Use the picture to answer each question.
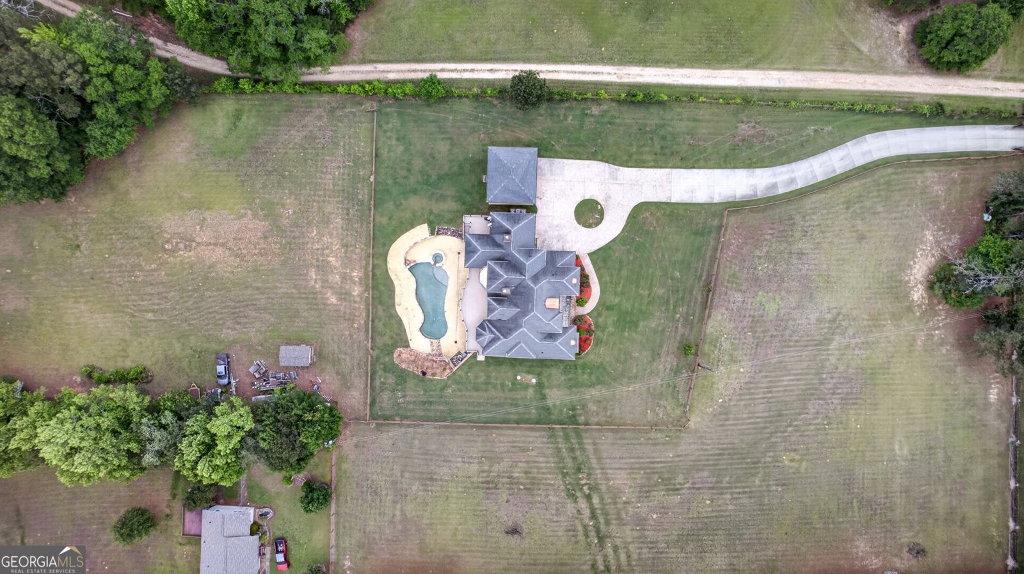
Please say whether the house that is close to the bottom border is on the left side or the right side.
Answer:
left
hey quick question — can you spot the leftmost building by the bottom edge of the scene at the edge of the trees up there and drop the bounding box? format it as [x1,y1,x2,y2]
[202,506,265,574]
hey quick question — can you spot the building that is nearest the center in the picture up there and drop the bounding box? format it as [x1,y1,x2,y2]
[465,212,581,360]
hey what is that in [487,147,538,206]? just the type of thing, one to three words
building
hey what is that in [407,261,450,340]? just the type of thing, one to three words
swimming pool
